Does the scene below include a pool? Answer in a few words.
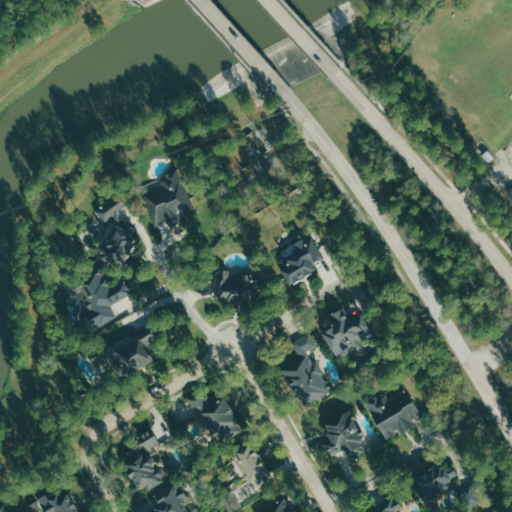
Yes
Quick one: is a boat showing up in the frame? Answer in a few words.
No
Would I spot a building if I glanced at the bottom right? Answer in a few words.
Yes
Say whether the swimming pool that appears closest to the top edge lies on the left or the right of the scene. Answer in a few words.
left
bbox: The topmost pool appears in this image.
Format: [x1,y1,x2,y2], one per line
[148,158,170,178]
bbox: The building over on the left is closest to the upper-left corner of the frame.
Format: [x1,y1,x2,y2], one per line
[91,194,128,224]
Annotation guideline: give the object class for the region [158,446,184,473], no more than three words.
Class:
swimming pool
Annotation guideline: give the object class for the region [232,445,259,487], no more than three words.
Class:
house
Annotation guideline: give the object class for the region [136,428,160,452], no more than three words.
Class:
building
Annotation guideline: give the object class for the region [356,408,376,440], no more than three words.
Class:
swimming pool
